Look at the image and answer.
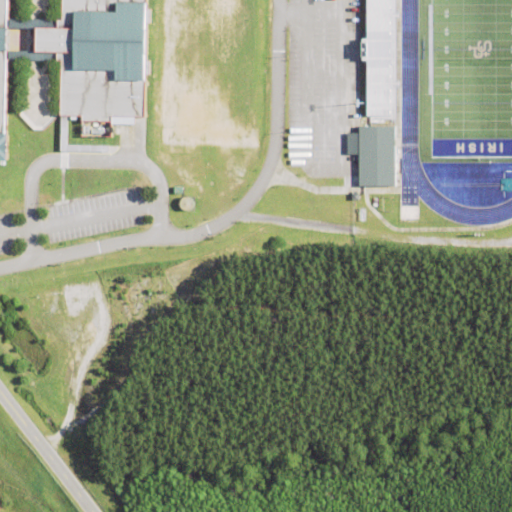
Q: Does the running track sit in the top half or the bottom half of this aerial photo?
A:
top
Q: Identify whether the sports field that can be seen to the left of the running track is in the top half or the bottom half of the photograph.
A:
top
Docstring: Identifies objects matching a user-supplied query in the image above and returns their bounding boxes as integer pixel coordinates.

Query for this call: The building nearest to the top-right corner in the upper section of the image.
[348,126,396,187]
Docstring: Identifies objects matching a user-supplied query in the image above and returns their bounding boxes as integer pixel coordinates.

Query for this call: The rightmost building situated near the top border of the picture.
[60,0,146,124]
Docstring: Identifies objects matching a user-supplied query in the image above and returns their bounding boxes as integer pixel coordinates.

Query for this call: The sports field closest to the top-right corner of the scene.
[418,0,512,164]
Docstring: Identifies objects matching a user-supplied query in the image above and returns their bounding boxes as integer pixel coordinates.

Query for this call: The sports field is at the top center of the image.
[160,0,262,150]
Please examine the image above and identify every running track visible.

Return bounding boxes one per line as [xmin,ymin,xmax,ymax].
[402,0,512,227]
